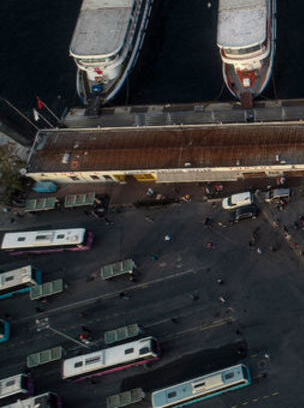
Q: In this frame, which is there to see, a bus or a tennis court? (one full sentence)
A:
Of the two, only a bus appears.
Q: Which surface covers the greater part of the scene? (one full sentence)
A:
The scene is dominated by paved ground.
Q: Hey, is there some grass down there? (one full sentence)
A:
No, the scene doesn't show any grass.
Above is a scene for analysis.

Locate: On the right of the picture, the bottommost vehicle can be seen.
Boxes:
[153,362,255,408]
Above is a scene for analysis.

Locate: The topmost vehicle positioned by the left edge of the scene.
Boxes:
[1,229,97,256]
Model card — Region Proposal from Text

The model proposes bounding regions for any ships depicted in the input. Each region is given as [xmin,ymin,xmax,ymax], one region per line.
[69,0,151,109]
[217,0,283,103]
